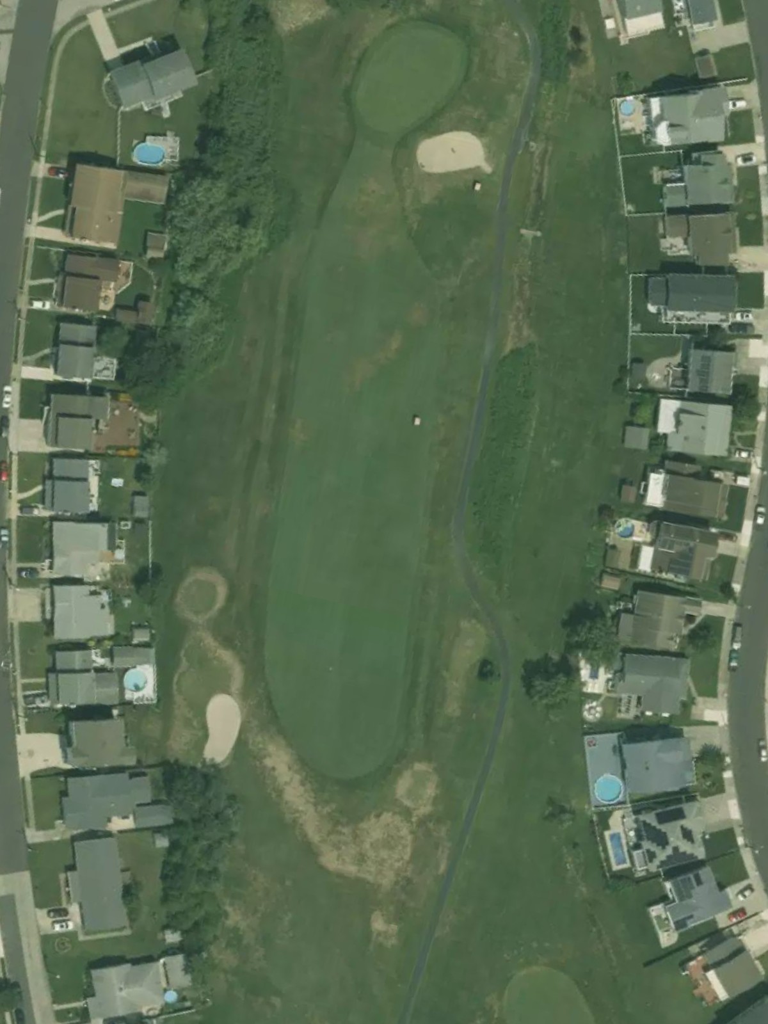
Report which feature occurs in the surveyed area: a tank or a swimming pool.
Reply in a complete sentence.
There is a swimming pool in the scene.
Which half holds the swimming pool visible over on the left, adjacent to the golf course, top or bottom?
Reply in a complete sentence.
It is in the bottom half that the swimming pool visible over on the left, adjacent to the golf course appears.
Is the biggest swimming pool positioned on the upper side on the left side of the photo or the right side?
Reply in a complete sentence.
You can find the biggest swimming pool positioned on the upper side on the left side of the picture.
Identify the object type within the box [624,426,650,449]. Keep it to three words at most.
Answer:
shed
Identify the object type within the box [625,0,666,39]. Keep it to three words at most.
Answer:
house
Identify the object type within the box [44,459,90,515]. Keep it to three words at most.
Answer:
house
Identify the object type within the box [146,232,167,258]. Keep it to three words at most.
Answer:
shed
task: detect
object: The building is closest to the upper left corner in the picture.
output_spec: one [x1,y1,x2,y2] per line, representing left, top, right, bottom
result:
[110,49,198,110]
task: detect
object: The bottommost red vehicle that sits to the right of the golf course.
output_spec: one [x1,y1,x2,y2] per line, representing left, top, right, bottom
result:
[727,908,748,922]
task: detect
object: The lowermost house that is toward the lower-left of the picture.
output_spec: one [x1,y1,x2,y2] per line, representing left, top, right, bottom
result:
[89,954,191,1019]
